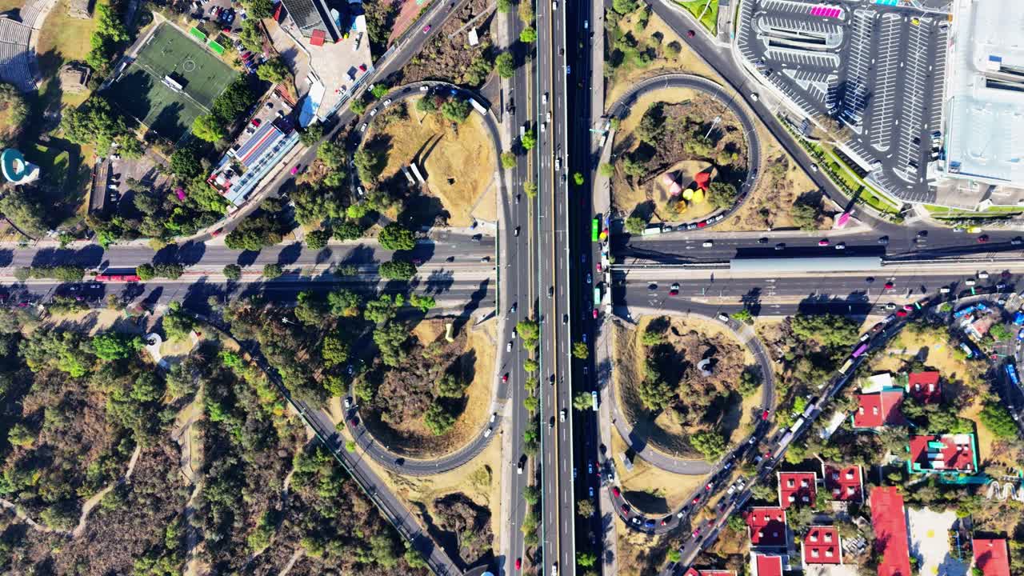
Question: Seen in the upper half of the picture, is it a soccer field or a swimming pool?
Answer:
soccer field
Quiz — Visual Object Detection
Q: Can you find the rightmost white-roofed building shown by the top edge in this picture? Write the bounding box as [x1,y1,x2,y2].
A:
[927,0,1024,192]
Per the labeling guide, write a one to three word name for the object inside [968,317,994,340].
building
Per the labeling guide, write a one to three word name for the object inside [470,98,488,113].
vehicle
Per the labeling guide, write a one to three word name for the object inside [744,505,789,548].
house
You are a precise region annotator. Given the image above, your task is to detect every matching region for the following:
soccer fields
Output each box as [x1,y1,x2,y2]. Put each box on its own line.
[102,21,237,145]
